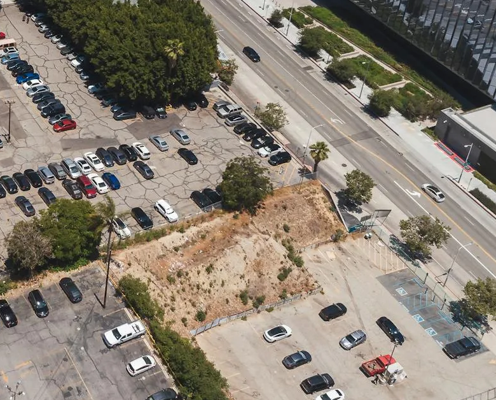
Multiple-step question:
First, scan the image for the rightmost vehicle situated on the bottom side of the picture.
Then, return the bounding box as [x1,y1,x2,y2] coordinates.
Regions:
[439,332,485,363]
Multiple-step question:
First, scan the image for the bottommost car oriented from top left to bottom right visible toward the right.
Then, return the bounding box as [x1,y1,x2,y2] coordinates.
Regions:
[371,315,410,349]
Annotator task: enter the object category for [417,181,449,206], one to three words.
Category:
car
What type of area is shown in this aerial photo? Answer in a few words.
parking lot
